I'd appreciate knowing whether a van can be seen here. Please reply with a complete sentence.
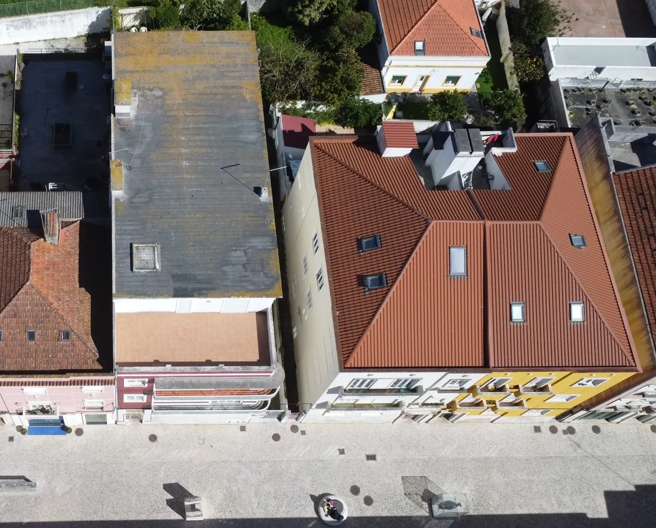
No, I find no van anywhere in the image.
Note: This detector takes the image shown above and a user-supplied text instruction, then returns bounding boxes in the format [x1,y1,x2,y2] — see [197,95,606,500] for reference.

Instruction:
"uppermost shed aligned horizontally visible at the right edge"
[529,38,656,95]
